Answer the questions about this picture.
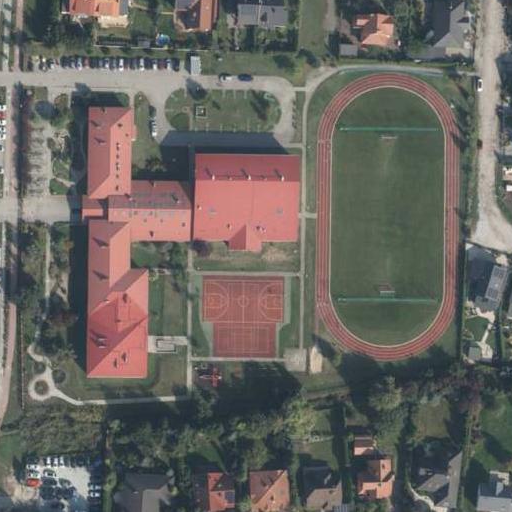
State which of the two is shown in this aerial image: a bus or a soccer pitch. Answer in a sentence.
Looking from above, you can make out a soccer pitch.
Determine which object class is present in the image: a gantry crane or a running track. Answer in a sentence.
This aerial view contains a running track.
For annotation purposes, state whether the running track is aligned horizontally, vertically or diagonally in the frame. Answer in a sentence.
In this picture, the running track lies vertically.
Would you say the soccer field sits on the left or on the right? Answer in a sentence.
The soccer field is on the right side of the image.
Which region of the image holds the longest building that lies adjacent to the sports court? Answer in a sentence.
The longest building that lies adjacent to the sports court sits in the left section of the image.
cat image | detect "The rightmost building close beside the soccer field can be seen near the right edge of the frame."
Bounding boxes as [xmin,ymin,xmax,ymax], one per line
[466,257,510,312]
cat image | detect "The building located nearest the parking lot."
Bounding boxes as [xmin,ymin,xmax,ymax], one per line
[116,474,169,512]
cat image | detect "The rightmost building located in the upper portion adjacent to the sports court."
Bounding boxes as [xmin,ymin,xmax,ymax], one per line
[194,154,301,252]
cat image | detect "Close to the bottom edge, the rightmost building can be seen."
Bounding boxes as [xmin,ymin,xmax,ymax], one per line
[477,470,512,512]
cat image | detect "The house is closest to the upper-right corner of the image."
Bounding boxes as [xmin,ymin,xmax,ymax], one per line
[428,0,471,53]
